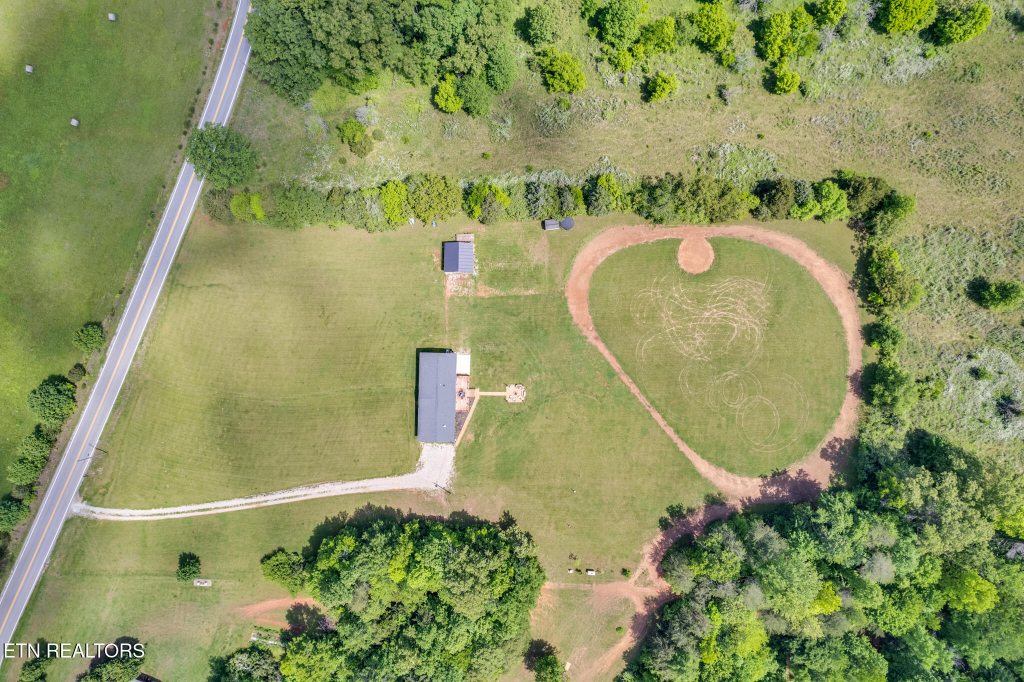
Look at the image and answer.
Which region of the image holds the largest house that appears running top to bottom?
center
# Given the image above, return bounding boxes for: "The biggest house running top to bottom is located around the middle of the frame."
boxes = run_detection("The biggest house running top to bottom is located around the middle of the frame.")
[417,352,457,444]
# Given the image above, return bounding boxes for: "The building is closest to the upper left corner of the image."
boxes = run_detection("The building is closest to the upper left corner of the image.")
[444,242,474,273]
